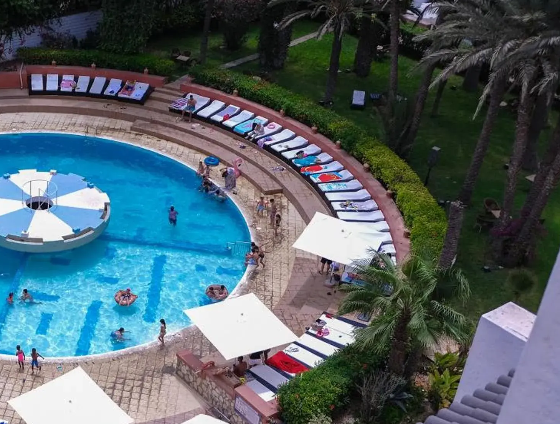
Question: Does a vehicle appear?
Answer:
No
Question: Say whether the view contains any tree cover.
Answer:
Yes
